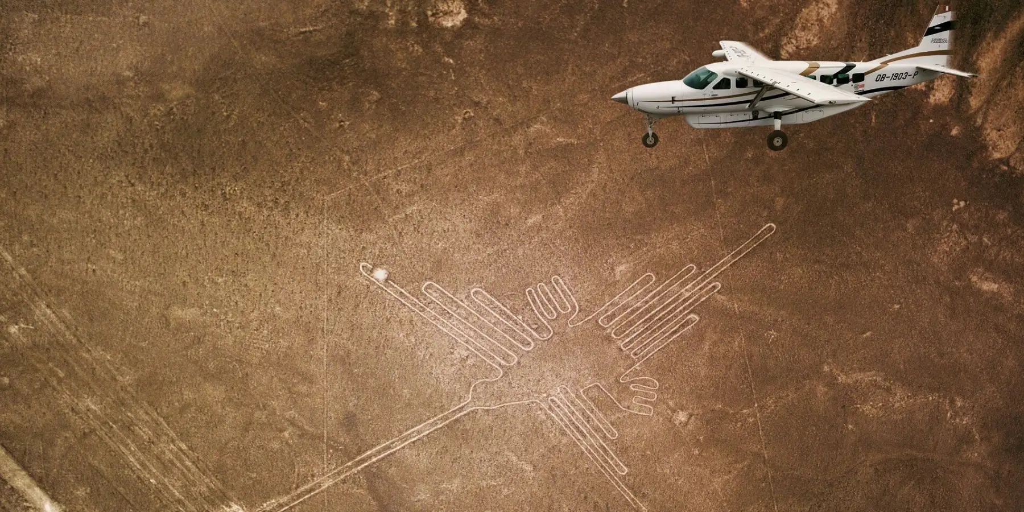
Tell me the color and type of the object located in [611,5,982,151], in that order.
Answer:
white airplane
